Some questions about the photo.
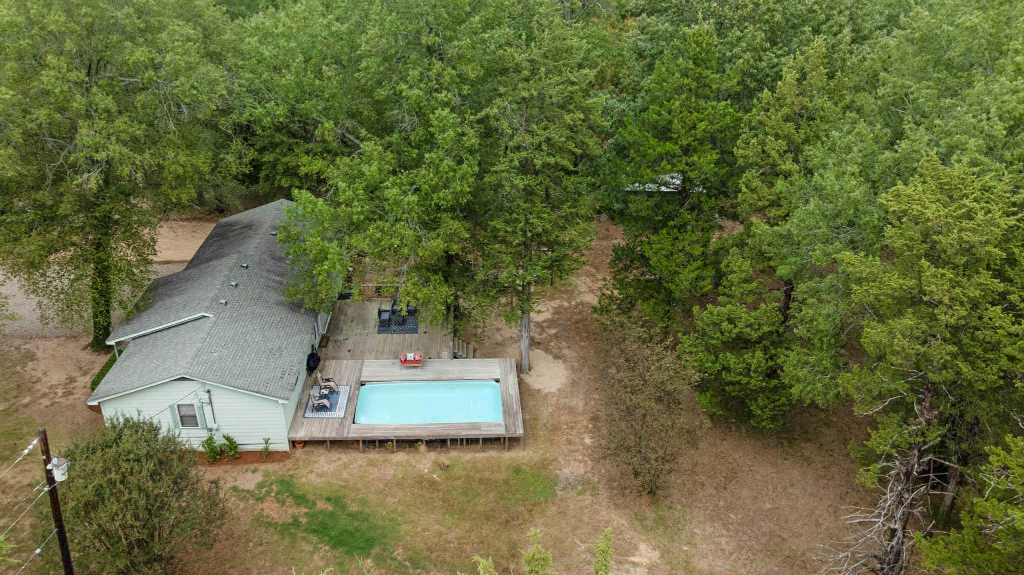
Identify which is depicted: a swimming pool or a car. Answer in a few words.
swimming pool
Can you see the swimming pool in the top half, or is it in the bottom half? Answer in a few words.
bottom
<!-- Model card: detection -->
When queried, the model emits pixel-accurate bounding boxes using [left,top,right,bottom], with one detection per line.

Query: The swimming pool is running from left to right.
[352,379,504,441]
